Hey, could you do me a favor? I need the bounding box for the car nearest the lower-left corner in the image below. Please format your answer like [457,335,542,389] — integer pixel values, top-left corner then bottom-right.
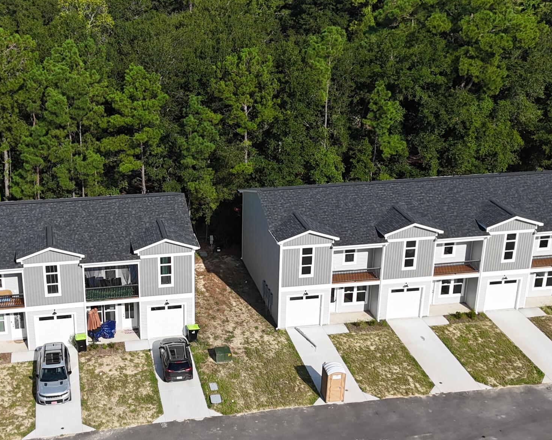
[35,346,74,406]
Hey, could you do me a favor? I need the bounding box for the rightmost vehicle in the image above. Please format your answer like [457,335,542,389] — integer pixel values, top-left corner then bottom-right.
[158,339,192,383]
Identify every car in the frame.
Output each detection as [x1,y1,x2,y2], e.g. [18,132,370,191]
[158,339,192,383]
[35,346,74,406]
